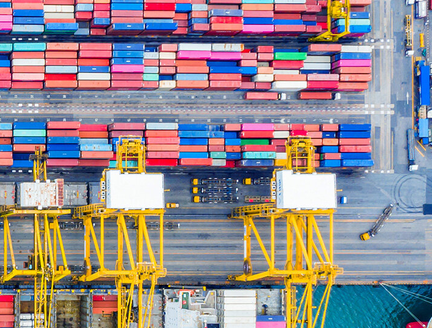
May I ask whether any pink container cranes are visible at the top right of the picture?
No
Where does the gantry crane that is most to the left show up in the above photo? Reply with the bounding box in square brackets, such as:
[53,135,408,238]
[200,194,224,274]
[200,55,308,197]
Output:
[0,144,74,328]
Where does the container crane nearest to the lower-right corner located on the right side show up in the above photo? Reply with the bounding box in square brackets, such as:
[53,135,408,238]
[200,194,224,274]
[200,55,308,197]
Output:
[221,139,345,328]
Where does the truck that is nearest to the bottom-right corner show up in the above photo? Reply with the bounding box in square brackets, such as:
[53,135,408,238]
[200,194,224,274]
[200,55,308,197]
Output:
[359,206,393,240]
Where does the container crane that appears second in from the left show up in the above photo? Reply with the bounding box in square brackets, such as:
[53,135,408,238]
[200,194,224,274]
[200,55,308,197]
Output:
[68,140,165,328]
